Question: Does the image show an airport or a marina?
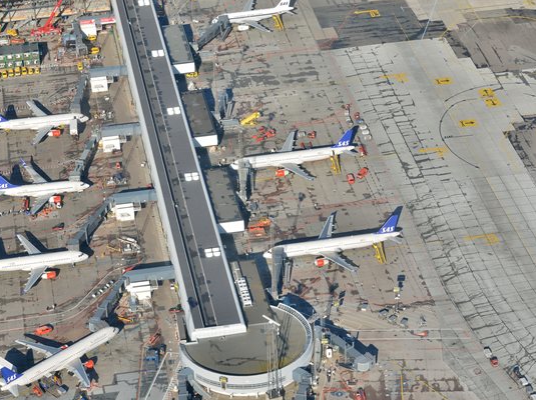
airport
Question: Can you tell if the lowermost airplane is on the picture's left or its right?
left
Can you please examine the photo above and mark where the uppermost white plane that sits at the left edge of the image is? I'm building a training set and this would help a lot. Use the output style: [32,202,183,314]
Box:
[0,101,91,145]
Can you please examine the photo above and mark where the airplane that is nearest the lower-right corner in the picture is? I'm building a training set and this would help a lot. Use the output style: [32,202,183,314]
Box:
[284,212,402,268]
